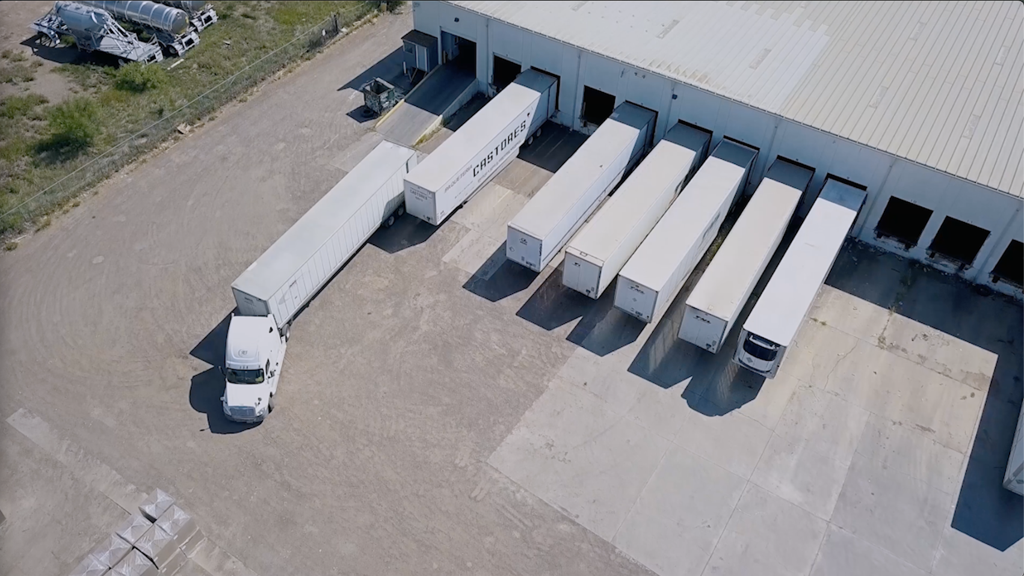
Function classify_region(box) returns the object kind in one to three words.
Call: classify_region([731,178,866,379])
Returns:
trailer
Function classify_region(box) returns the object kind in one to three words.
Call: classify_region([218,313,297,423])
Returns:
truck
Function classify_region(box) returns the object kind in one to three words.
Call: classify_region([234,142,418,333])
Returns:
trailer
